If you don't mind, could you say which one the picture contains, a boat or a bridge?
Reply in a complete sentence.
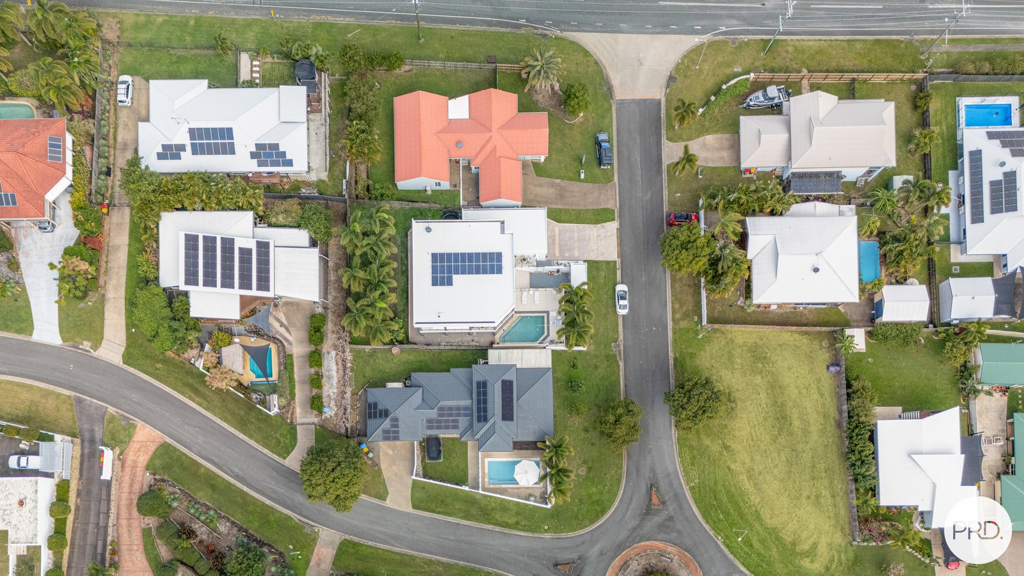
It is a boat that can be seen here.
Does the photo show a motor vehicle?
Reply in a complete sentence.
Yes, the photo shows a motor vehicle.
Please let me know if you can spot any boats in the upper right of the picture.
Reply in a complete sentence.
Yes, a boat appears in the upper right of the picture.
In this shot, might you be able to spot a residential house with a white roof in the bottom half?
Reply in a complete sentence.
Yes, looking in the bottom half, one can make out a residential house with a white roof.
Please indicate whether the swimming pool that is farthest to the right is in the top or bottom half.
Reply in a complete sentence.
The top half of the photo is where the swimming pool that is farthest to the right is.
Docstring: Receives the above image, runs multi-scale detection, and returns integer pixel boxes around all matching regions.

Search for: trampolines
[441,201,460,219]
[425,436,443,464]
[293,58,317,92]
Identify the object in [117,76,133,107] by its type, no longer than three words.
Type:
car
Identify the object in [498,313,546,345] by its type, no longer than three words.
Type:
swimming pool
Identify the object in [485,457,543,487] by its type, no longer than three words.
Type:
swimming pool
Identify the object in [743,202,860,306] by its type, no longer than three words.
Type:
house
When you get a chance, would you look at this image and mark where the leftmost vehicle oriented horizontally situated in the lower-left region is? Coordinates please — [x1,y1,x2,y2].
[10,454,40,469]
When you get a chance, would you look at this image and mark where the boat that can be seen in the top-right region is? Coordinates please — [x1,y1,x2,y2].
[742,80,798,105]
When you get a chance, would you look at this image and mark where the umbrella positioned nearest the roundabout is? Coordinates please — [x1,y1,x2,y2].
[515,461,539,485]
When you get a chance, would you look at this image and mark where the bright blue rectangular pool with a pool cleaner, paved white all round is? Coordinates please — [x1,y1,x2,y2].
[963,101,1015,128]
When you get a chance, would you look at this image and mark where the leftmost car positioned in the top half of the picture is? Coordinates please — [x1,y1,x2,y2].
[38,207,54,238]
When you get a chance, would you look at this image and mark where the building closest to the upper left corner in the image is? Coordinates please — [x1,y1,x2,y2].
[0,118,81,227]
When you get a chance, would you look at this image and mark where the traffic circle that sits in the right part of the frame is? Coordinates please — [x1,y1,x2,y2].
[606,541,703,576]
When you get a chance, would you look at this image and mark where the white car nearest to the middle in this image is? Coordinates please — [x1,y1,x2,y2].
[614,283,629,315]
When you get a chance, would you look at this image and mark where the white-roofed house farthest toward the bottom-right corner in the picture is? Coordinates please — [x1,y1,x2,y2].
[872,406,977,528]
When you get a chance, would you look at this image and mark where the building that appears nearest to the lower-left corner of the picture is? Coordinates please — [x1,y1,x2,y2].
[0,476,53,545]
